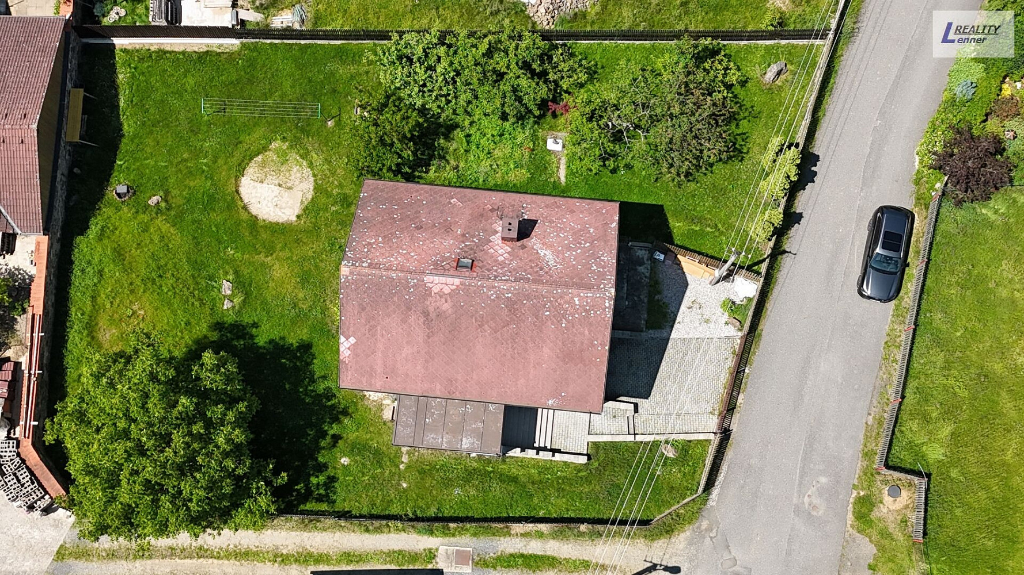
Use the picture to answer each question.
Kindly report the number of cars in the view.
1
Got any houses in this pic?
Yes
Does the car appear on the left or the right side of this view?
right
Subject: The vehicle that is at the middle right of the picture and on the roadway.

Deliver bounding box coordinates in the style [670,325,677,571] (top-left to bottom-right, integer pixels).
[854,203,909,305]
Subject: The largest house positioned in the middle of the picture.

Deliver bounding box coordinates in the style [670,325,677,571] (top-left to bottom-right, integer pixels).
[337,176,620,417]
